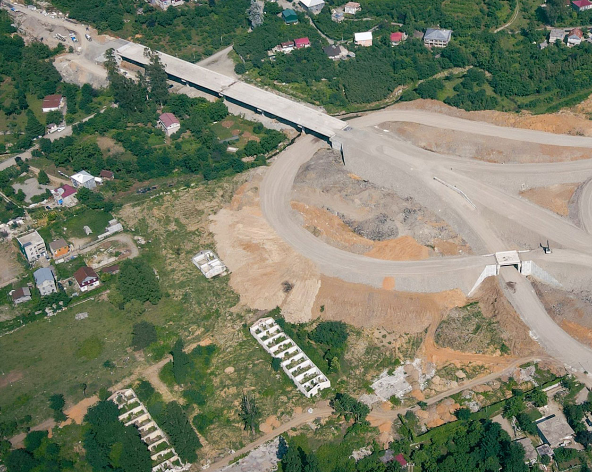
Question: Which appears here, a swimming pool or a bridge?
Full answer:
Of the two, only a bridge appears.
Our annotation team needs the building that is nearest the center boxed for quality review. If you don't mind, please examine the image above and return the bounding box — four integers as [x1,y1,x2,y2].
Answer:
[195,254,226,283]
